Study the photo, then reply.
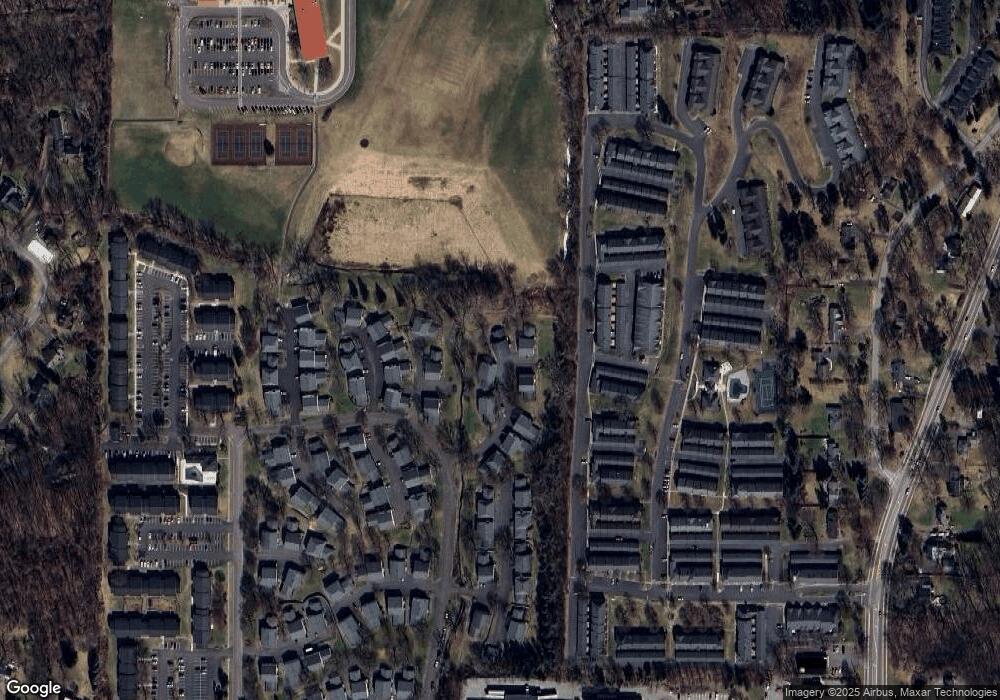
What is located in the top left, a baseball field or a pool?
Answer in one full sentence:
It is a baseball field that can be seen in the top left.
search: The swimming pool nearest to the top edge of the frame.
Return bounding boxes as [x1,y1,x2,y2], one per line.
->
[727,369,749,402]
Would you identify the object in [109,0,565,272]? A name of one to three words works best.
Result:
sports field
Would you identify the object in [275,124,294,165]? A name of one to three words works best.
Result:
tennis court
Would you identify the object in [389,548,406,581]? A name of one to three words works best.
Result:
house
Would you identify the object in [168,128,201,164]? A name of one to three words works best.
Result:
baseball field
